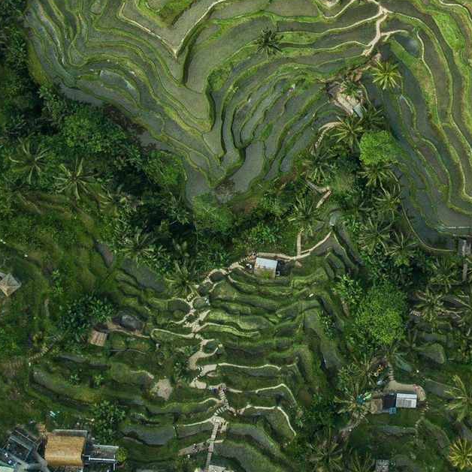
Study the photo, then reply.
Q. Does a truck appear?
No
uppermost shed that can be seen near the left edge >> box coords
[0,270,27,298]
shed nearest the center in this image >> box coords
[254,255,278,275]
